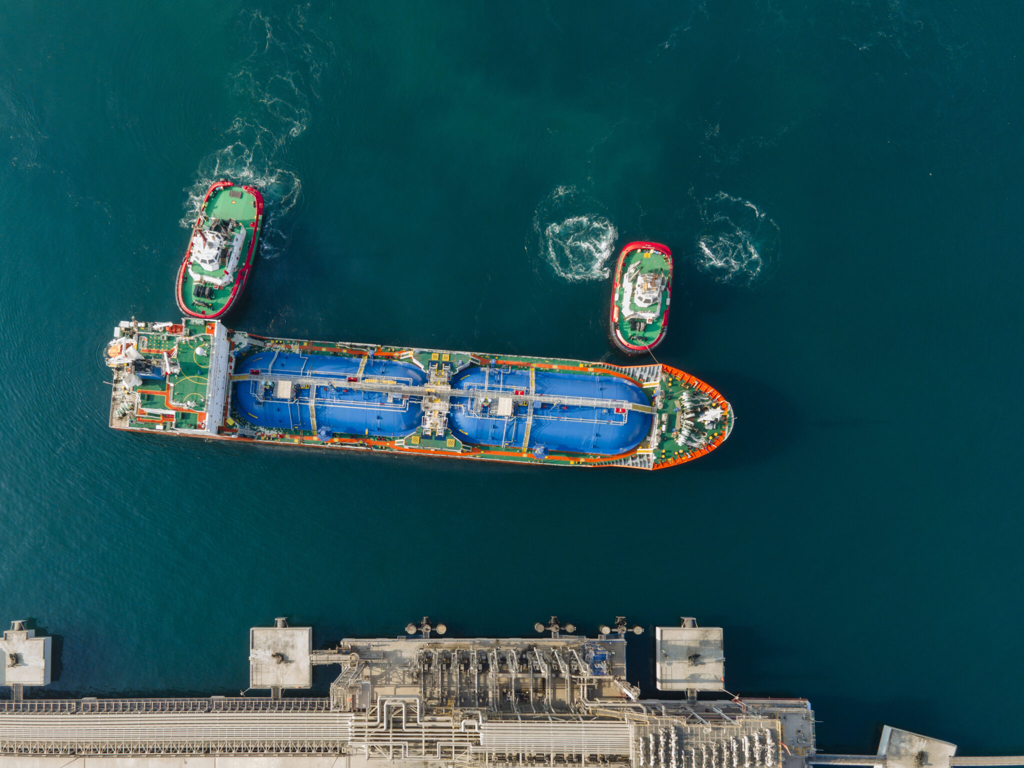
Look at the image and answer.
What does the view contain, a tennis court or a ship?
ship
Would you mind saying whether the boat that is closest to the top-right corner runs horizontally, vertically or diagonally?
vertically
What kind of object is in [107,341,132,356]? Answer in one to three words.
boat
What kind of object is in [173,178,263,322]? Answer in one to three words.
boat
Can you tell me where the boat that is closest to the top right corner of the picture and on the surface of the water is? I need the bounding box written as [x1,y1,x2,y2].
[608,241,673,357]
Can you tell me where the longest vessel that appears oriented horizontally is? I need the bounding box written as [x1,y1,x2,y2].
[103,316,738,472]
